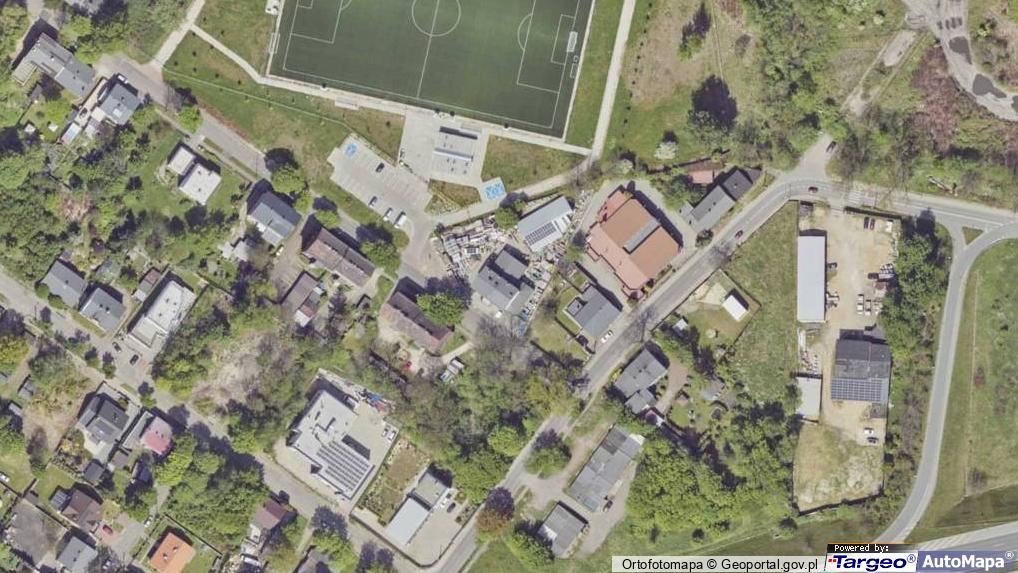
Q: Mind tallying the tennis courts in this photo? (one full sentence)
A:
I count no tennis courts.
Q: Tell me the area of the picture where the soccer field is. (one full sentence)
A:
The soccer field appears toward the top of the photo.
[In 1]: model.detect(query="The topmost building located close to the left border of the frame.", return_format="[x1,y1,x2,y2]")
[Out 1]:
[11,32,94,90]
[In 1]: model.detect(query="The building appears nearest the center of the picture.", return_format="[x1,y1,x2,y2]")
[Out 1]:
[471,250,535,316]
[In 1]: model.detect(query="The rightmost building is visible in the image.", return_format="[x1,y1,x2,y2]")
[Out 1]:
[832,327,893,419]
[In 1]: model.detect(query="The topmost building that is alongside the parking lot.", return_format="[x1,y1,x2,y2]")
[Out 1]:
[431,127,477,175]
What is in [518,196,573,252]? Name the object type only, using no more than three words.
building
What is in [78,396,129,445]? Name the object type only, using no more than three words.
house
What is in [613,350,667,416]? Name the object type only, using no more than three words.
house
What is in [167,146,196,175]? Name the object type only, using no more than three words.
shed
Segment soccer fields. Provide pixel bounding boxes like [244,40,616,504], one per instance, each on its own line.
[266,0,594,139]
